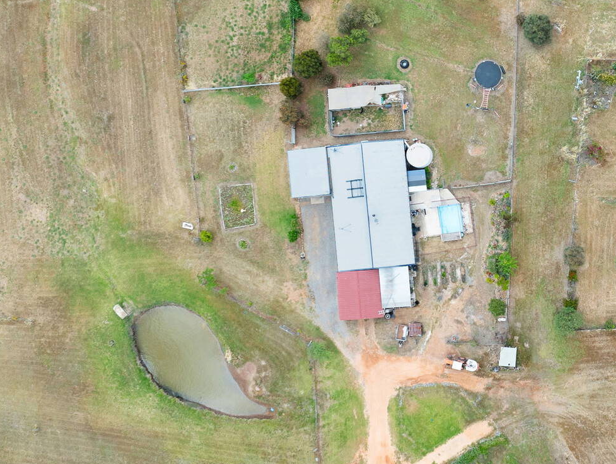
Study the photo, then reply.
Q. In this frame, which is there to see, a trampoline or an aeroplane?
trampoline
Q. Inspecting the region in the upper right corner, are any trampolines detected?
Yes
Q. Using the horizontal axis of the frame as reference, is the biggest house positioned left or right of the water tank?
left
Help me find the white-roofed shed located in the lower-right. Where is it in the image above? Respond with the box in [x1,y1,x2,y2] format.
[499,346,517,367]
